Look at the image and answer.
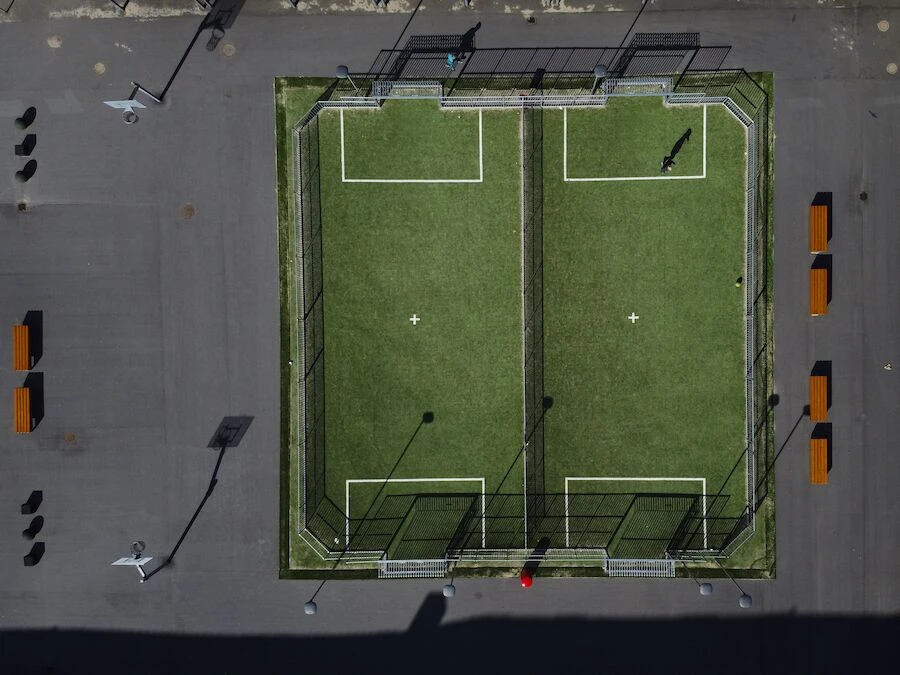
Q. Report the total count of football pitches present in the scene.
2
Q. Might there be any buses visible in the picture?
No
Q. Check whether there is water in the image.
No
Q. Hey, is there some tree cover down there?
No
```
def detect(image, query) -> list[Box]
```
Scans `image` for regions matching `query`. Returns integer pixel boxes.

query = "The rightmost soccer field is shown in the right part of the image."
[524,105,748,551]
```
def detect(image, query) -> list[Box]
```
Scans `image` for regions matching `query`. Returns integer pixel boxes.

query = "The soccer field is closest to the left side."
[300,107,526,551]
